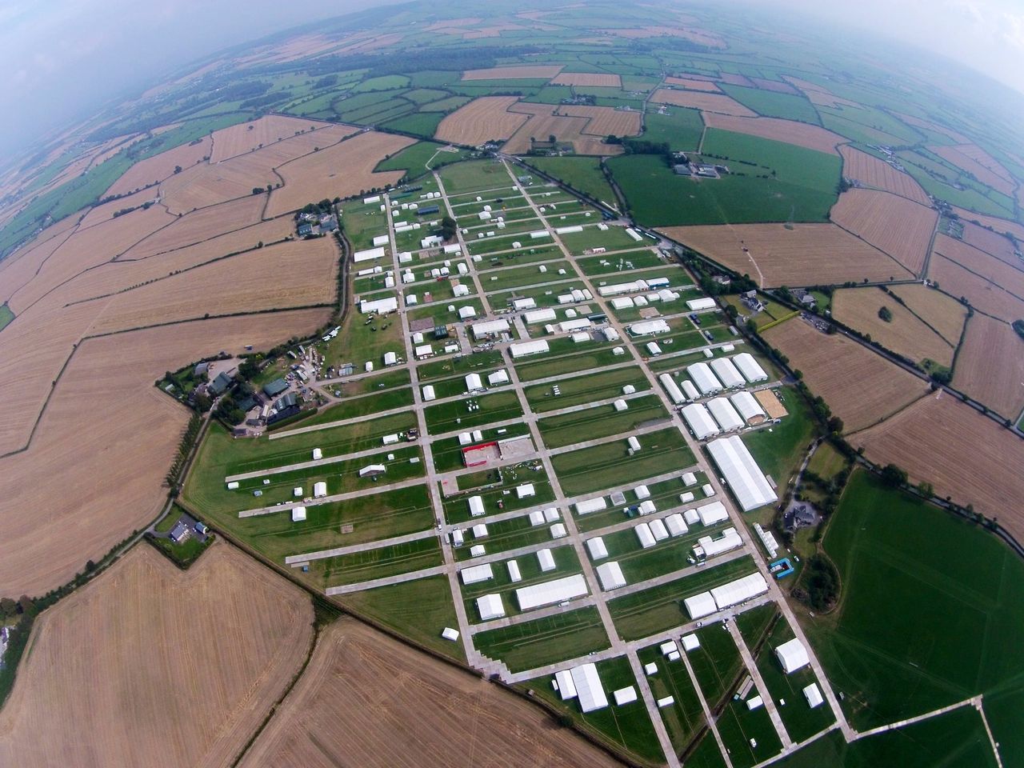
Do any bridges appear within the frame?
No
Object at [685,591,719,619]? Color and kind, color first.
white tent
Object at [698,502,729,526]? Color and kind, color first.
white tent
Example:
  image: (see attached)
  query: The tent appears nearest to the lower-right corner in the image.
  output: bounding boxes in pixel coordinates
[804,681,826,708]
